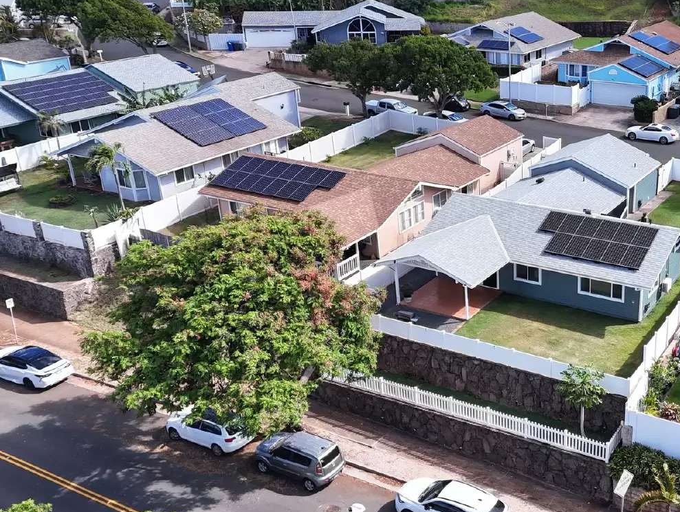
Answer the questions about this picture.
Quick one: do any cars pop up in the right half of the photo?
Yes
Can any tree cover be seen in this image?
Yes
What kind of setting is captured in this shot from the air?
residential area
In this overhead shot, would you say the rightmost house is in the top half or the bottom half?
top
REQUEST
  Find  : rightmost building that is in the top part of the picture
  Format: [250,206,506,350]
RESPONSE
[553,26,680,105]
